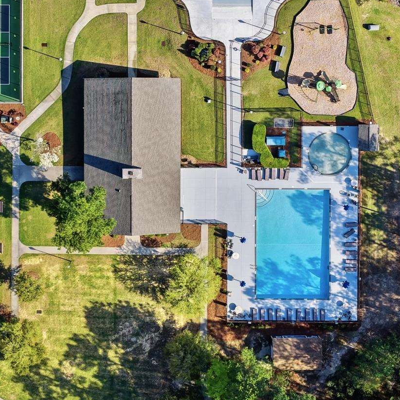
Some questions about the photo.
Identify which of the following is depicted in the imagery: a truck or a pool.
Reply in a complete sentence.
Looking from above, you can make out a pool.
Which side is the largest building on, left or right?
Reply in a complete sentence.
It is on the left.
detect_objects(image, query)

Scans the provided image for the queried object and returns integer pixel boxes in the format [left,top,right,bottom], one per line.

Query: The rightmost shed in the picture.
[355,124,379,151]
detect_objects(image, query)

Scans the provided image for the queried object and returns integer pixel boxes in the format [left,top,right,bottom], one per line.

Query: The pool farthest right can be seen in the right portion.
[306,131,352,176]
